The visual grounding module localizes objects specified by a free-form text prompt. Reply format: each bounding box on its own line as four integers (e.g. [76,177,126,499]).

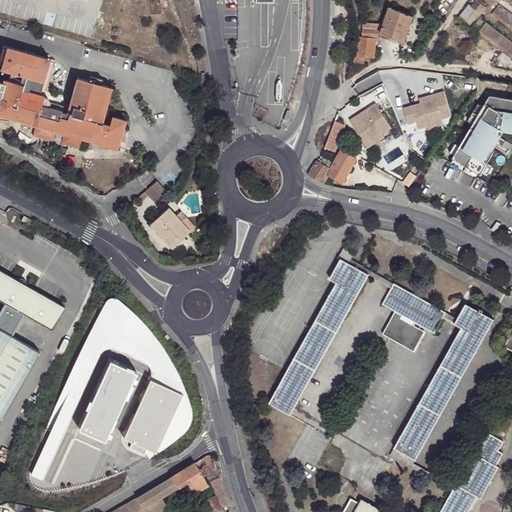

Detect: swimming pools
[182,192,201,214]
[496,154,506,166]
[384,146,404,165]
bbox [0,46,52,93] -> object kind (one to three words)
house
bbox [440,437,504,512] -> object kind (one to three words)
building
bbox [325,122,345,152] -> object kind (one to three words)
shed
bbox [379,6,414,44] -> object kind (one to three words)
house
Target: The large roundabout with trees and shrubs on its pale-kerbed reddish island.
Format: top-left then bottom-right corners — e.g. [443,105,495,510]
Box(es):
[217,135,304,221]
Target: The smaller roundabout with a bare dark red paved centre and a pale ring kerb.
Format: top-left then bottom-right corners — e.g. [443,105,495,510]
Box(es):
[163,270,231,338]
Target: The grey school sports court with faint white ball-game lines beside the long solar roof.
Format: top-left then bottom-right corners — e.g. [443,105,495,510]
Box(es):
[246,236,345,369]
